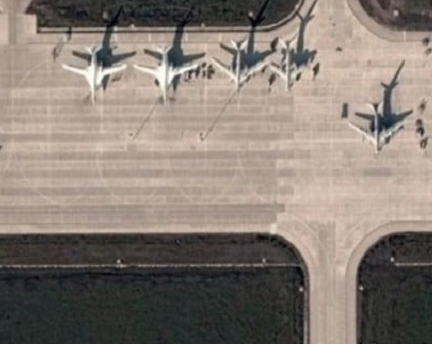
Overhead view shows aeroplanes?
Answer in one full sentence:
Yes, the photo shows an aeroplane.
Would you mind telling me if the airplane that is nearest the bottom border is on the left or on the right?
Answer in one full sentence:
You can find the airplane that is nearest the bottom border on the right side of the picture.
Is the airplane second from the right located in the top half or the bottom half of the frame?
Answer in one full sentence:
Seen from above, the airplane second from the right lies in the top half of the view.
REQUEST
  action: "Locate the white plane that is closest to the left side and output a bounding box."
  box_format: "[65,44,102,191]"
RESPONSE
[63,48,126,105]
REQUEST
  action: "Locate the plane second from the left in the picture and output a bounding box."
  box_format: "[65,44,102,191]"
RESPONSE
[133,47,195,105]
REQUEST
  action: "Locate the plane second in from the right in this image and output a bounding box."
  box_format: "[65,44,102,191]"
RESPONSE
[271,39,305,91]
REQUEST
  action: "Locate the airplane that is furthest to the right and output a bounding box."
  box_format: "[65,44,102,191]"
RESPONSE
[349,103,405,158]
